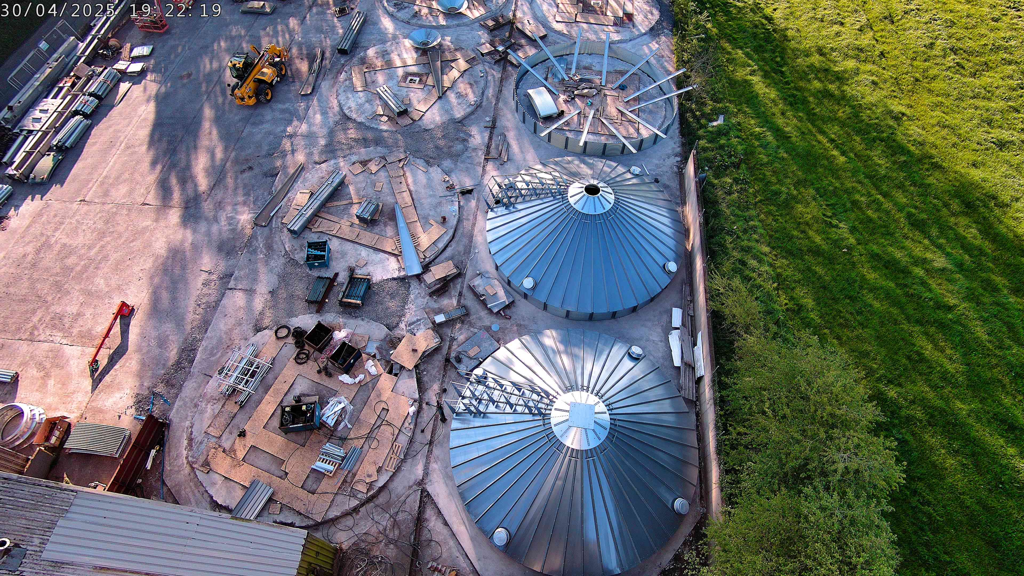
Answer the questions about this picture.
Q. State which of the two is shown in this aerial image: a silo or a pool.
silo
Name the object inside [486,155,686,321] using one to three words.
silo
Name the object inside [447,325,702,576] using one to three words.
silo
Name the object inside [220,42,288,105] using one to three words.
work vehicle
